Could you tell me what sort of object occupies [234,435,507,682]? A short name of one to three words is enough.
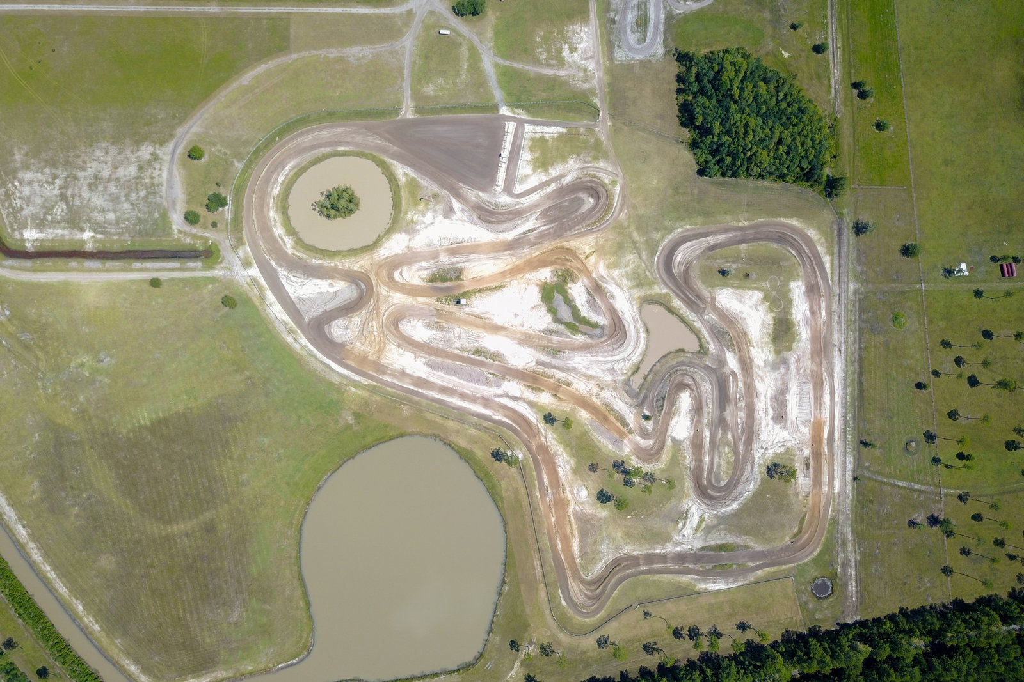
pond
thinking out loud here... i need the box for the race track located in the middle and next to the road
[240,115,837,619]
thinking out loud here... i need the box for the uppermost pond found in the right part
[633,303,698,389]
